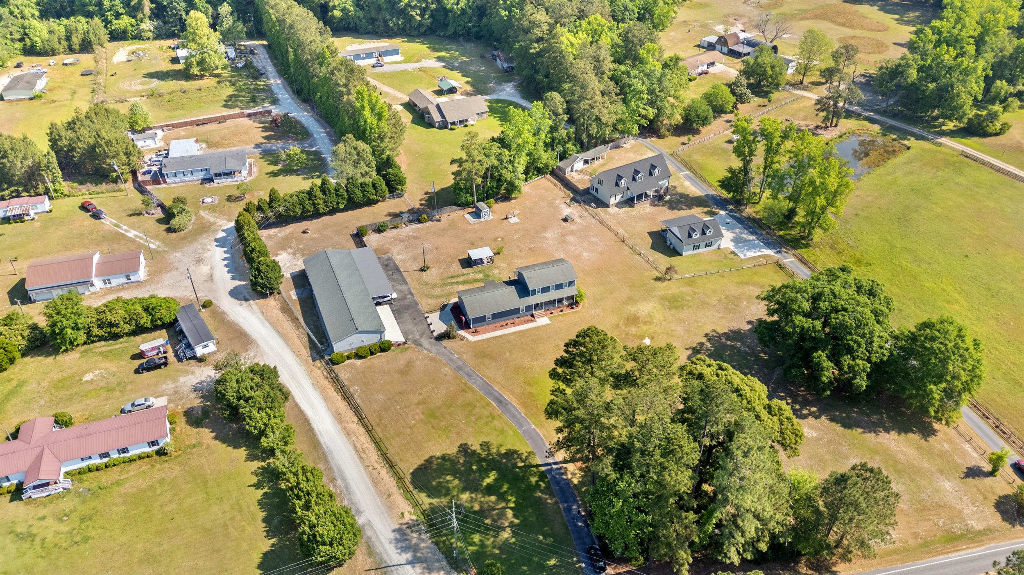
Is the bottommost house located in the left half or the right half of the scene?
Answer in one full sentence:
You can find the bottommost house on the left side of the picture.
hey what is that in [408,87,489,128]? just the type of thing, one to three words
house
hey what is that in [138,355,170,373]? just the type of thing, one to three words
vehicle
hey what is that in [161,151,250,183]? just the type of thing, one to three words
house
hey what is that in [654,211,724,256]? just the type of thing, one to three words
building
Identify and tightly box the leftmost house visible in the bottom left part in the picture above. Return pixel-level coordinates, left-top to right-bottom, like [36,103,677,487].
[0,406,171,510]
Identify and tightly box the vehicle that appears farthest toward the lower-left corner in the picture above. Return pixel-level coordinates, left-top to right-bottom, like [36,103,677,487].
[124,396,155,415]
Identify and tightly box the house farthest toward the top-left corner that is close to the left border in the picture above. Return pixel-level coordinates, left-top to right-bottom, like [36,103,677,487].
[1,73,48,100]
